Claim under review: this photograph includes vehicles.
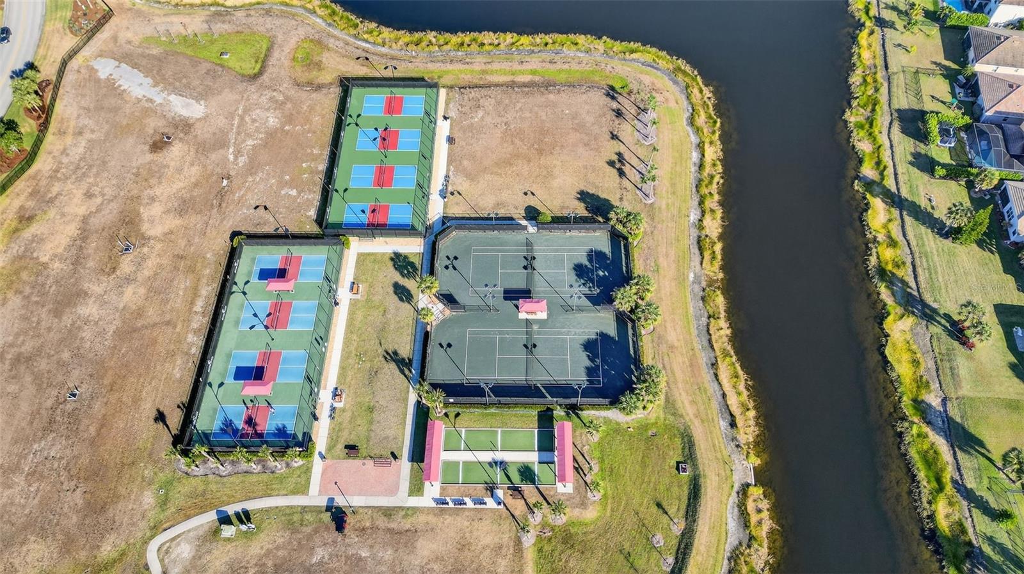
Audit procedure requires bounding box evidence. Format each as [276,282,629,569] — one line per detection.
[0,28,12,43]
[334,516,348,534]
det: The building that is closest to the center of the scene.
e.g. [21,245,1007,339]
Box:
[518,299,547,319]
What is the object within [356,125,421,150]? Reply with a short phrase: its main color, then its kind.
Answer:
blue sports court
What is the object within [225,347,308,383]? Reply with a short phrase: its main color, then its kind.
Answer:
blue sports court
